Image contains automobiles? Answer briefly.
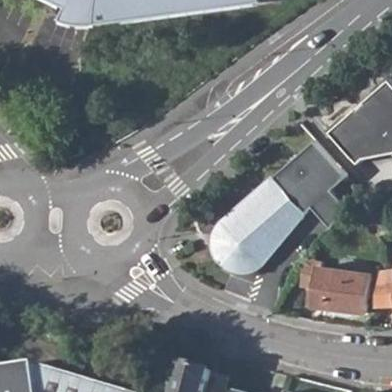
Yes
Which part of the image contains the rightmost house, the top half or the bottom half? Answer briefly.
bottom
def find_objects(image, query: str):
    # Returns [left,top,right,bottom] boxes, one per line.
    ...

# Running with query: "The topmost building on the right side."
[327,82,392,164]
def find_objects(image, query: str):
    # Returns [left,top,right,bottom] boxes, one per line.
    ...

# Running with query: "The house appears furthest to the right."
[372,267,392,310]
